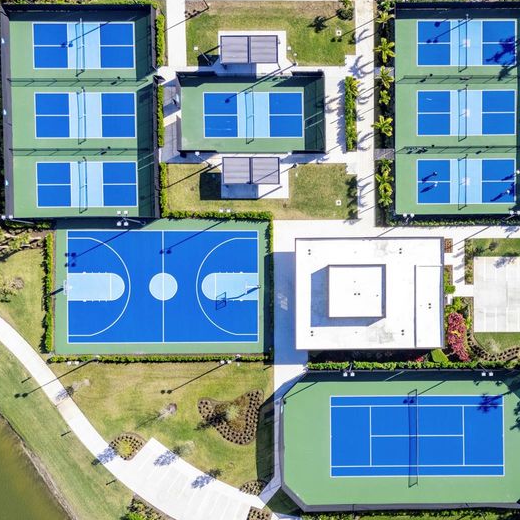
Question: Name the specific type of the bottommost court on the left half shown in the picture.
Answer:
basketball court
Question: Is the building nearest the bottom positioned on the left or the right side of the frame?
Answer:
right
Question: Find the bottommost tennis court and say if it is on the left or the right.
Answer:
right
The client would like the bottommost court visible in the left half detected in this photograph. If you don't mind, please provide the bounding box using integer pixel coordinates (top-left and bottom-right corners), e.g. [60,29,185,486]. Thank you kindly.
[55,219,269,354]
